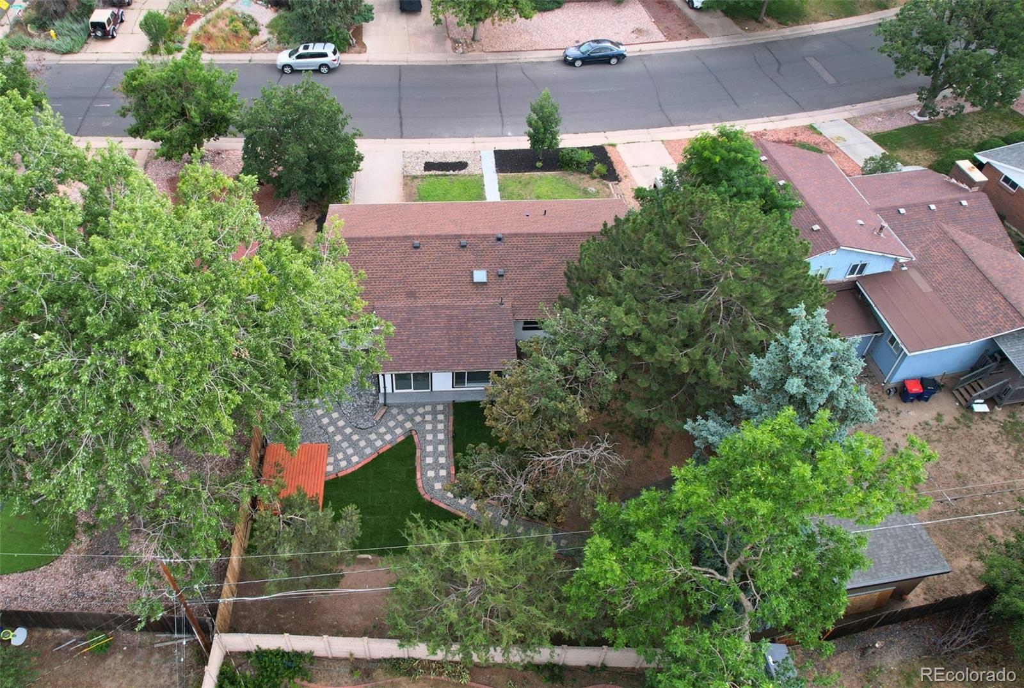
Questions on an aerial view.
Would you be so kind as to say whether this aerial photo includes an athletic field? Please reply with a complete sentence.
No, no athletic field is visible in the scene.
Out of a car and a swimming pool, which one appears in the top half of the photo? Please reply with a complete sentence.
You can see a car in the top half of the photo.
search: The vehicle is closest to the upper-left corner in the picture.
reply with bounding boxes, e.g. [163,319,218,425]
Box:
[89,4,130,34]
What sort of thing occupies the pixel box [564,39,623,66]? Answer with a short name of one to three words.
car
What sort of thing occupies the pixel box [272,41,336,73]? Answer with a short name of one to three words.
car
